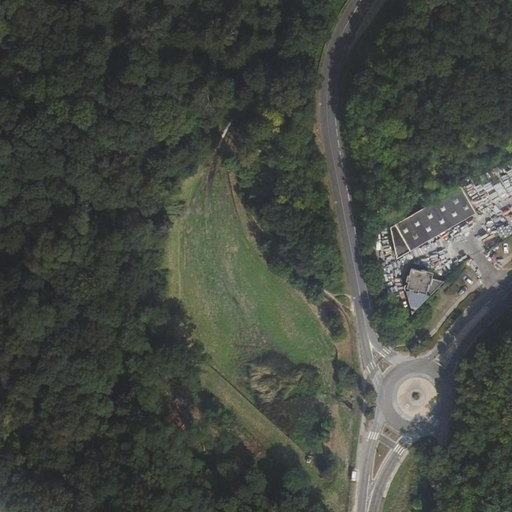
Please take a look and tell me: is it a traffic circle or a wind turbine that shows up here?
traffic circle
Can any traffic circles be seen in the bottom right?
Yes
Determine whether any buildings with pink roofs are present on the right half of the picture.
No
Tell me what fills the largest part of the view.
trees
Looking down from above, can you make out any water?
No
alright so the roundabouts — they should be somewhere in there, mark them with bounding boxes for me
[378,358,454,434]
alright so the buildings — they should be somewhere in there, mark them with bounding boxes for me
[406,269,444,314]
[390,186,476,258]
